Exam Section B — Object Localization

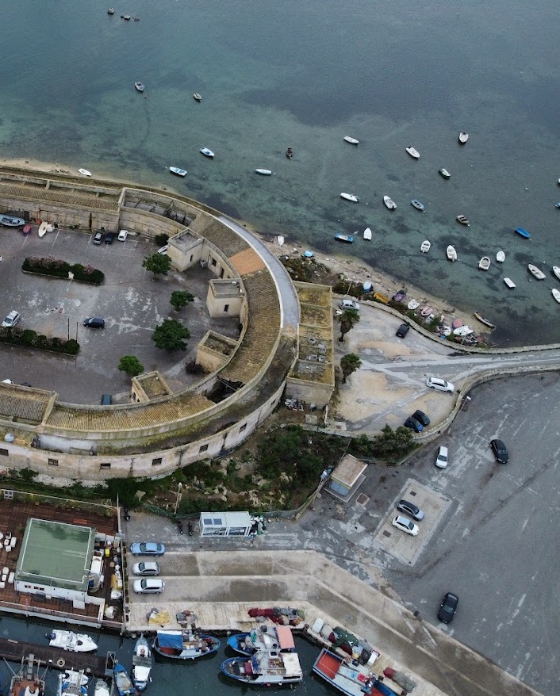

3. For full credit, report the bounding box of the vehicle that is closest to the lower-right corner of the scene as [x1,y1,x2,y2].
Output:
[437,591,459,624]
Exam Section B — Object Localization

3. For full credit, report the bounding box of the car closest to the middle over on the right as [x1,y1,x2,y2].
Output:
[338,301,360,314]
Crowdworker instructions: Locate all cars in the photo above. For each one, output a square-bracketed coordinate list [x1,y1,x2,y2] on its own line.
[437,591,459,624]
[83,317,105,330]
[118,231,129,243]
[394,323,409,339]
[400,417,427,437]
[93,231,104,245]
[425,376,454,395]
[434,444,451,470]
[395,497,426,522]
[488,439,508,464]
[391,514,420,539]
[407,409,434,429]
[132,560,161,578]
[133,577,165,595]
[104,231,116,244]
[3,310,20,326]
[100,389,113,407]
[131,540,165,557]
[338,301,360,314]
